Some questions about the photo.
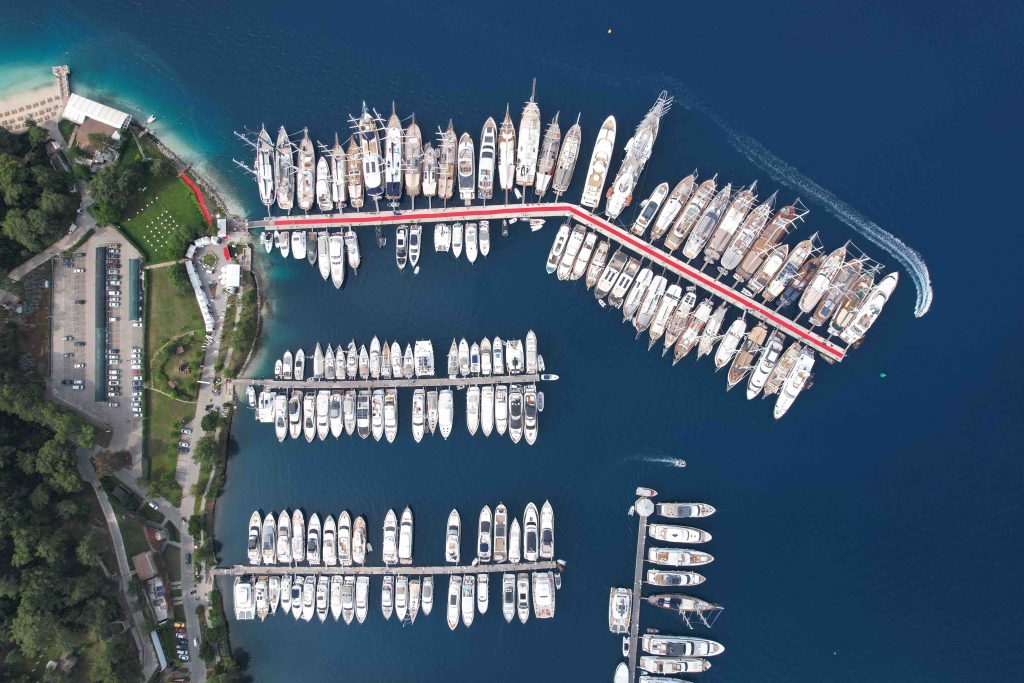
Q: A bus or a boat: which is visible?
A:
boat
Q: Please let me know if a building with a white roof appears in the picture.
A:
Yes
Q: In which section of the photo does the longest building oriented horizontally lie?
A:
top left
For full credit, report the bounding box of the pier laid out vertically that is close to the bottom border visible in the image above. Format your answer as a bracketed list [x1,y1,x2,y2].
[629,496,654,683]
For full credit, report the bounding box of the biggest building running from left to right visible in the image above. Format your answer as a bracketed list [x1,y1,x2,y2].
[61,96,135,131]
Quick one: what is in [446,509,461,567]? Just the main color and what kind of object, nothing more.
white boat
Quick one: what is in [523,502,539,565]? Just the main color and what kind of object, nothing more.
white boat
